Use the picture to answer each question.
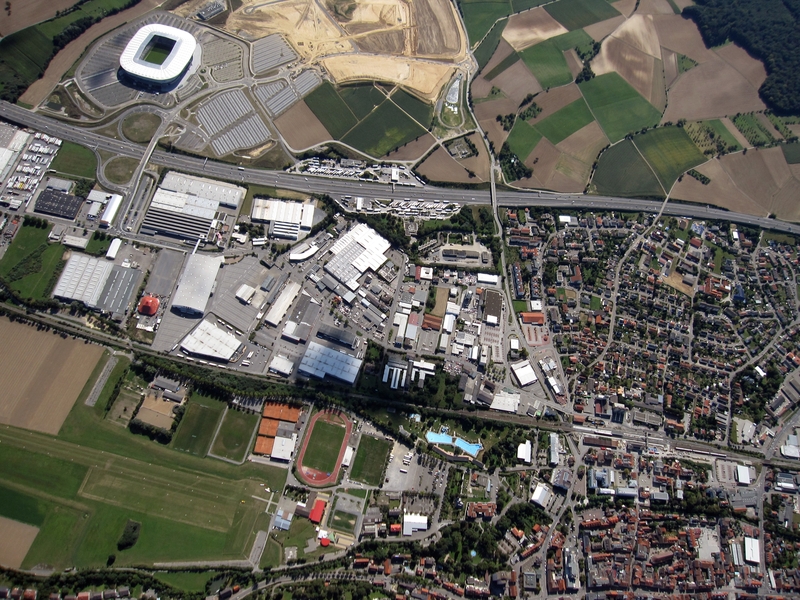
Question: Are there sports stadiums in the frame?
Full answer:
Yes, the photo shows a sports stadium.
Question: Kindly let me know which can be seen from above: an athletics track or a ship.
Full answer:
Looking from above, you can make out an athletics track.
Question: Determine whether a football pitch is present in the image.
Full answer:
Yes, the image includes a football pitch.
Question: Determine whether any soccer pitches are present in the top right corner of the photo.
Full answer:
No, looking in the top right corner of the photo, there is no soccer pitch.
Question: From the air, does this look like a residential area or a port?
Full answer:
The area seen from above is a residential area.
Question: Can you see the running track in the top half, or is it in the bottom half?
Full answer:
The running track is in the bottom half of the image.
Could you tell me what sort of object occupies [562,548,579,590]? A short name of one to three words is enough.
building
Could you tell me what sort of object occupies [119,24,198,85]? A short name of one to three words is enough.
stadium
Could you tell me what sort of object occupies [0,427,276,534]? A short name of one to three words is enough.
airport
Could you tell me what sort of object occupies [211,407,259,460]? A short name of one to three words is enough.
soccer field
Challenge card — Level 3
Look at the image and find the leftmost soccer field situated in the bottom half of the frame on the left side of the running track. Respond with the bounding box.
[174,397,222,451]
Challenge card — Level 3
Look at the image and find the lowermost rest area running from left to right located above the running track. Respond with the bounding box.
[330,195,462,220]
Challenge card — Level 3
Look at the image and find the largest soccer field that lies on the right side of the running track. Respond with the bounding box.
[351,434,391,485]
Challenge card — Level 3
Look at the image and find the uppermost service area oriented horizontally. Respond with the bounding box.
[288,159,426,185]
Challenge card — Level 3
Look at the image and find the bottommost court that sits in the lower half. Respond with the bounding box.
[335,493,363,518]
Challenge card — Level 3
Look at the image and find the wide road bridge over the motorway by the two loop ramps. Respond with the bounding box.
[121,115,171,207]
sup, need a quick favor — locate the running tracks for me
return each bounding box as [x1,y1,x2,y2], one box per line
[298,409,352,487]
